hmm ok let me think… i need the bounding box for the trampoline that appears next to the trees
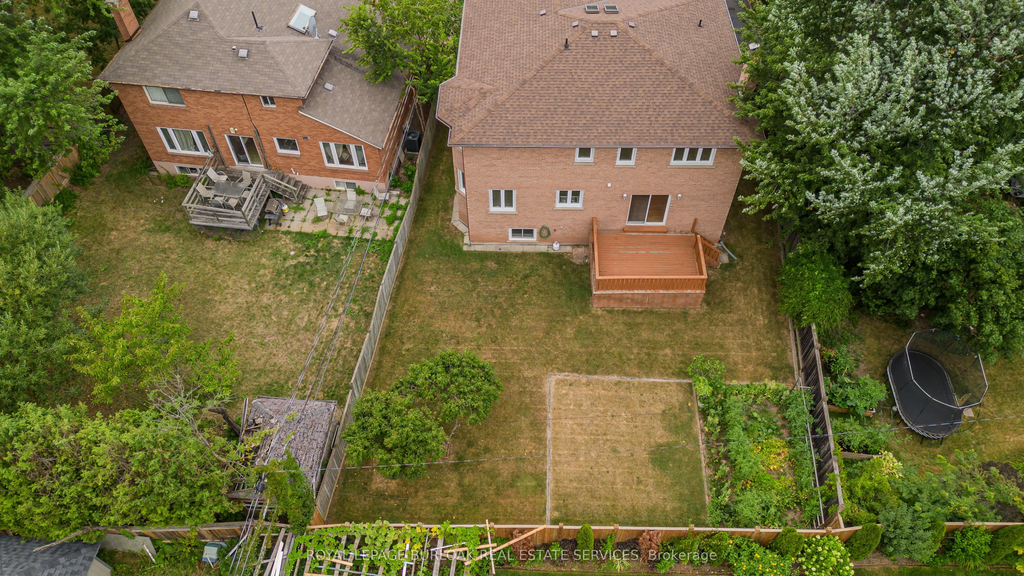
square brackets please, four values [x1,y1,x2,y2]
[876,330,991,447]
